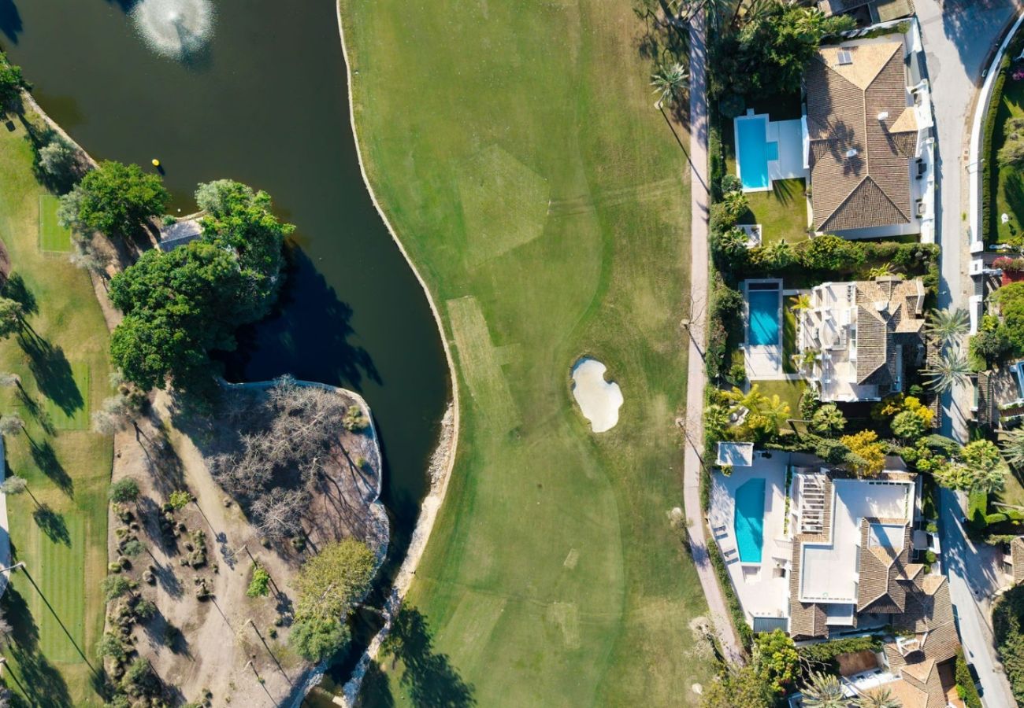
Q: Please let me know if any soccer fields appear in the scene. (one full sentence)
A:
No, I can see no soccer field in this picture.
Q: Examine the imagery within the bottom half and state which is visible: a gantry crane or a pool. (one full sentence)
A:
You can see a pool within the bottom half.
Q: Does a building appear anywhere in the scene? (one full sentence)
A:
Yes, a building can be made out from above.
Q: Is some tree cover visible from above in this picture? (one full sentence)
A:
Yes, there is tree cover in the image.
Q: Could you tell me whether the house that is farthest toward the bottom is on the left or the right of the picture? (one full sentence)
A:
The house that is farthest toward the bottom appears in the right half of the scene.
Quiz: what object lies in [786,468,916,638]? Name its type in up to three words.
house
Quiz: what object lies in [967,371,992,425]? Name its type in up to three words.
building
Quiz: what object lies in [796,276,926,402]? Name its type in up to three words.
house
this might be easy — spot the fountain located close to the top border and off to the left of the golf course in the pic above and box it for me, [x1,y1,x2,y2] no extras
[127,0,219,61]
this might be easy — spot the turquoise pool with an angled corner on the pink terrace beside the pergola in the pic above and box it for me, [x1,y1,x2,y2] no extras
[709,452,792,634]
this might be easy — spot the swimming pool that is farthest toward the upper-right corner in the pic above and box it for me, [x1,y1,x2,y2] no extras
[734,108,807,192]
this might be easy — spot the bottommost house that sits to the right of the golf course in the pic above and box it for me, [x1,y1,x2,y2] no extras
[832,564,959,708]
